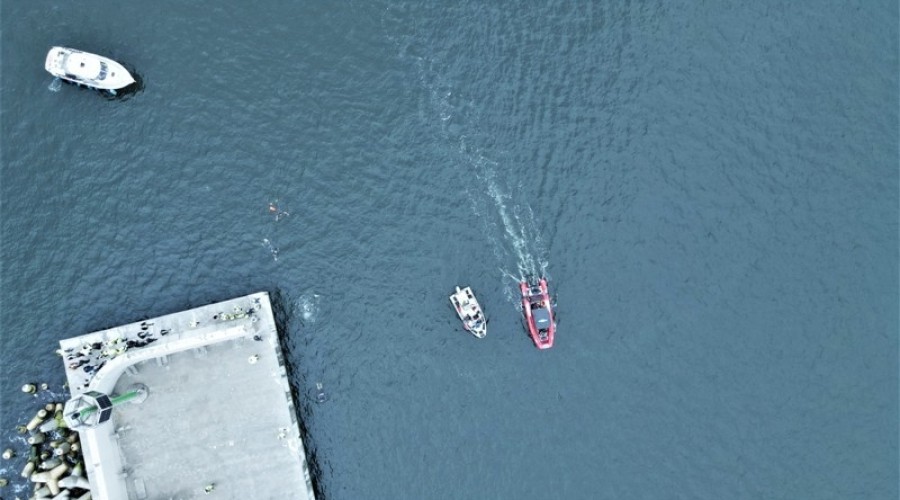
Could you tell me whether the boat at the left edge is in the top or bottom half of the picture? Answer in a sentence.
You can find the boat at the left edge in the top half.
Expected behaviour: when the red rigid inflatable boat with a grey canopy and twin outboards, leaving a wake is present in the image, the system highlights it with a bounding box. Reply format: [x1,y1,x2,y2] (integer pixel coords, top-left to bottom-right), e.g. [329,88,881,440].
[520,277,554,349]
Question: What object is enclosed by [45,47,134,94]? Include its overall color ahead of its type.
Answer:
white boat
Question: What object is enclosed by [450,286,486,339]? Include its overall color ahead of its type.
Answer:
white boat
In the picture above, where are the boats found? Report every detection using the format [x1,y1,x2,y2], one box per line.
[45,47,134,94]
[520,277,554,349]
[450,286,486,339]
